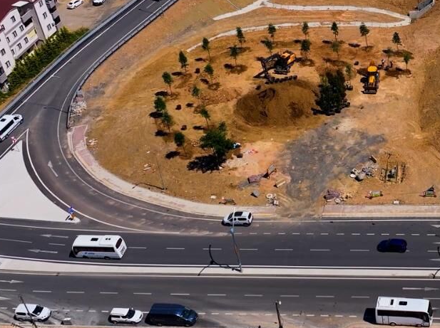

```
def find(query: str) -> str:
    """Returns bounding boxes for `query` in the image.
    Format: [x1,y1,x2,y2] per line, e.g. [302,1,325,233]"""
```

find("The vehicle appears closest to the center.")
[221,209,254,226]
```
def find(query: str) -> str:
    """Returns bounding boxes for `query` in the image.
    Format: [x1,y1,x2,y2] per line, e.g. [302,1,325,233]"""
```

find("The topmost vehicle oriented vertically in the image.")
[362,58,379,91]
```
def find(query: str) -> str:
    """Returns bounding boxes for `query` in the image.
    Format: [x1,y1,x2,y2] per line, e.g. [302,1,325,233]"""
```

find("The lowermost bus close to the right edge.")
[373,296,431,326]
